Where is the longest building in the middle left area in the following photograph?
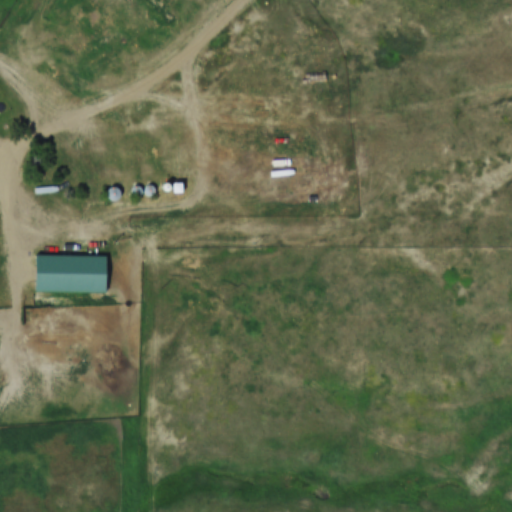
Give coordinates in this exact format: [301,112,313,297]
[36,255,106,292]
